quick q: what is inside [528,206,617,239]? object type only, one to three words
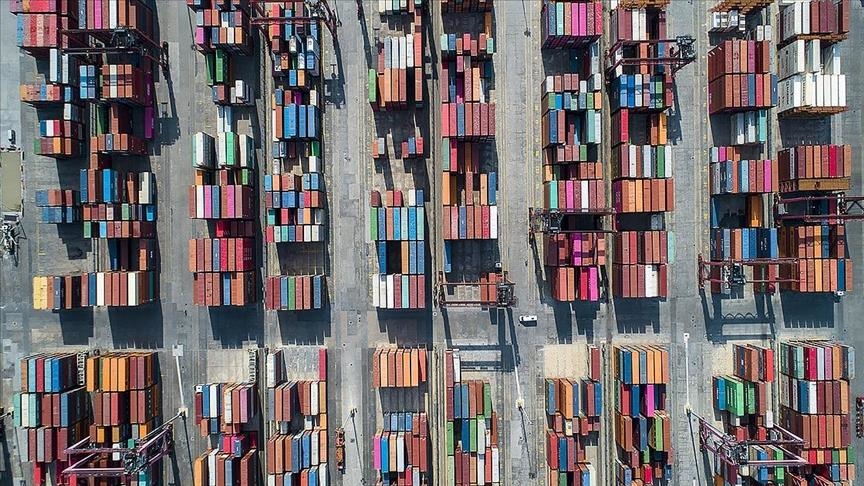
container crane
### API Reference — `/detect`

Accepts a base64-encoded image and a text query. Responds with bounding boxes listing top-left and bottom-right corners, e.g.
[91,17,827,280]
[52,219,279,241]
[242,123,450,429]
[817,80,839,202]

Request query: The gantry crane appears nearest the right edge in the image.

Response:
[778,195,864,224]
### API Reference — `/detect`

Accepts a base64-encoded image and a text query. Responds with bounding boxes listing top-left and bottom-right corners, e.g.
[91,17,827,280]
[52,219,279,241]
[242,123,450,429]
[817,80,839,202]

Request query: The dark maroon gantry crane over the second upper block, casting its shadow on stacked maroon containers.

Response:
[59,25,167,70]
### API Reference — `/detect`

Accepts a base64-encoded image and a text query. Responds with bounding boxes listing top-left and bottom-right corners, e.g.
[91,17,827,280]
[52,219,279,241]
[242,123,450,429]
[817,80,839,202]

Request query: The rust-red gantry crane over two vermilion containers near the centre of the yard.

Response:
[437,274,517,308]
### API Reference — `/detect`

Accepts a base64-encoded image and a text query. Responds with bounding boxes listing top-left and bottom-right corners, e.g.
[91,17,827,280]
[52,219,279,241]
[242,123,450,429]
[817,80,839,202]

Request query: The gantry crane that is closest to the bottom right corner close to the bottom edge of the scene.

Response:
[701,421,807,467]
